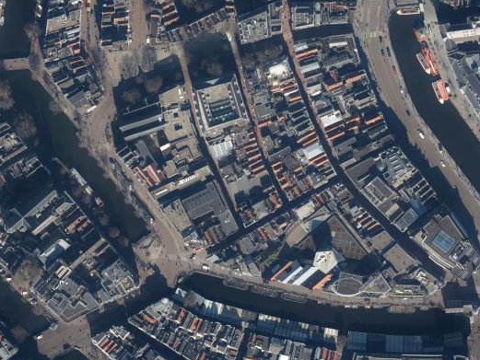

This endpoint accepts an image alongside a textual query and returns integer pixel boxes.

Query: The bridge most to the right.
[132,229,192,285]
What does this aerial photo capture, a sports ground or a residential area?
residential area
